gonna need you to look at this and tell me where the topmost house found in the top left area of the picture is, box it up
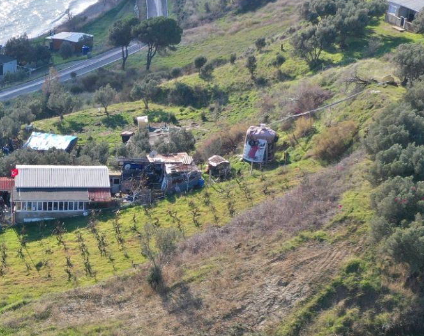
[54,30,97,55]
